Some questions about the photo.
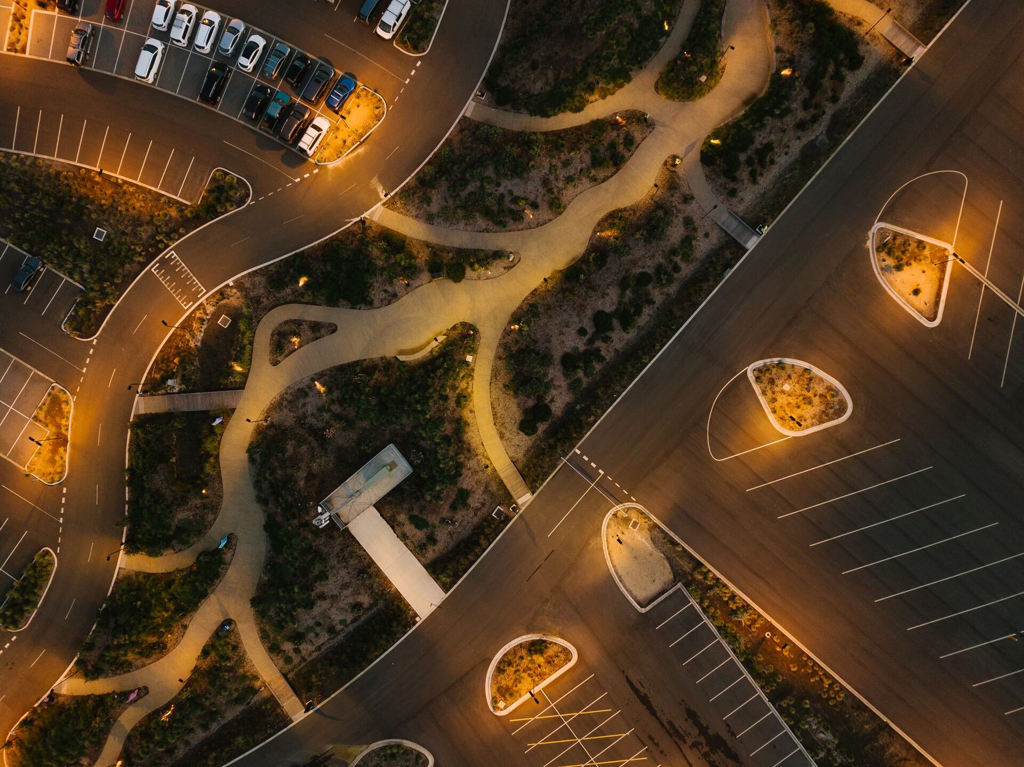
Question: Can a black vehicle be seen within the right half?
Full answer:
No, I see no black vehicle within the right half.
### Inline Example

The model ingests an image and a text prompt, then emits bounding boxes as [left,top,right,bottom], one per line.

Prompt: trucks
[66,21,96,68]
[261,90,291,133]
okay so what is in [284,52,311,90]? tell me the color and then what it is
black car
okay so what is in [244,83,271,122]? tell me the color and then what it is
black car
